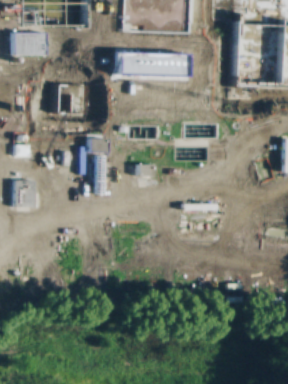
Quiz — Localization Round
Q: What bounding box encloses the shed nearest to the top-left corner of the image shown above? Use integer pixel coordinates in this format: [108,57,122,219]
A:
[11,32,47,60]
